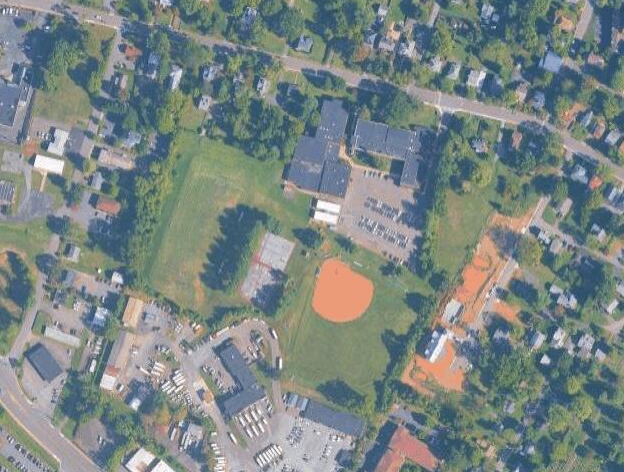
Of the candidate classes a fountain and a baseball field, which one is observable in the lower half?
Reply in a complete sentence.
Visible in the lower half is a baseball field.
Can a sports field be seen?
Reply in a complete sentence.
Yes, the image includes a sports field.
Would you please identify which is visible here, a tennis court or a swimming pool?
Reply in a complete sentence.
The image shows a tennis court.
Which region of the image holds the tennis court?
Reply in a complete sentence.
You can find the tennis court in the center area of the picture.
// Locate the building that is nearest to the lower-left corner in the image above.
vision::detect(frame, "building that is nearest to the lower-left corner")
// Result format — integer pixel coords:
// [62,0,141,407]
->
[23,343,62,384]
